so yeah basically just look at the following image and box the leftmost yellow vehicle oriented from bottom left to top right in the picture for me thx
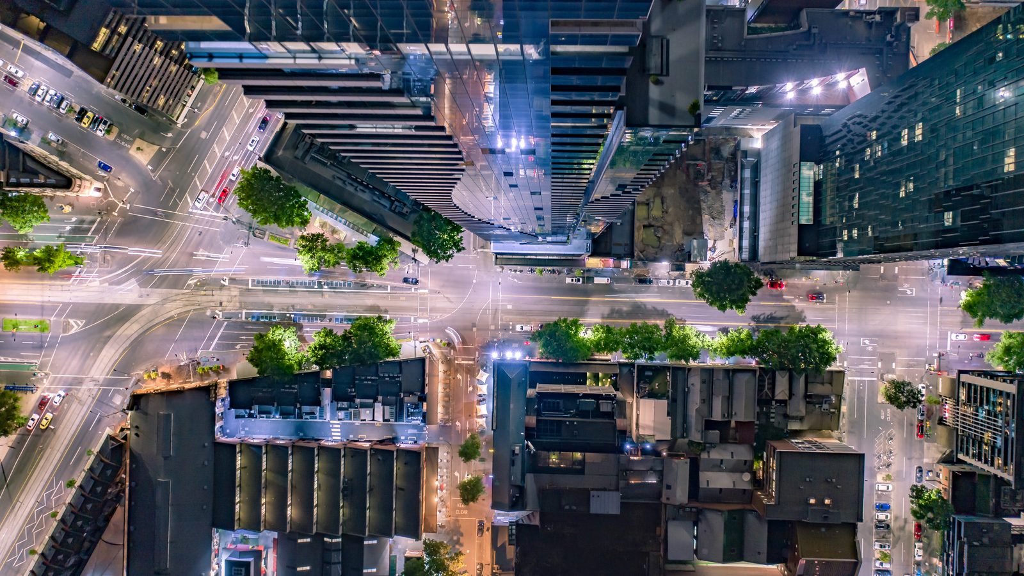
[40,413,53,429]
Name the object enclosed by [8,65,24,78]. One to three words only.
vehicle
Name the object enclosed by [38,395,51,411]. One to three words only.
vehicle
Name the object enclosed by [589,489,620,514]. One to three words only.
shed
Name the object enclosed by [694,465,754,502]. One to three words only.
building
